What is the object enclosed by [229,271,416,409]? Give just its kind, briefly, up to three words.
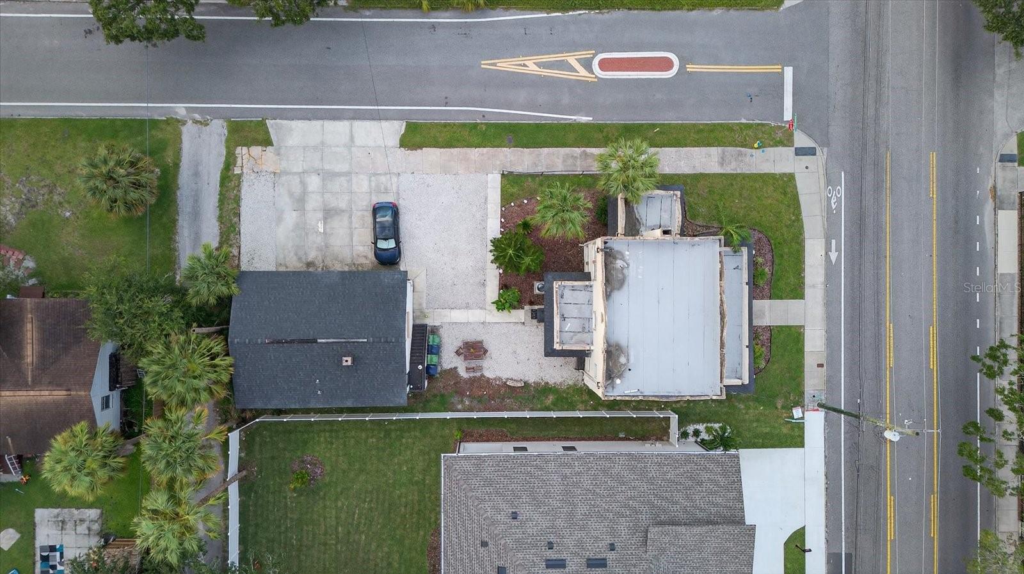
shed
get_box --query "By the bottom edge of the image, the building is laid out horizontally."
[439,439,755,574]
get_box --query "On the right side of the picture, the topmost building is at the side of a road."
[543,185,752,400]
